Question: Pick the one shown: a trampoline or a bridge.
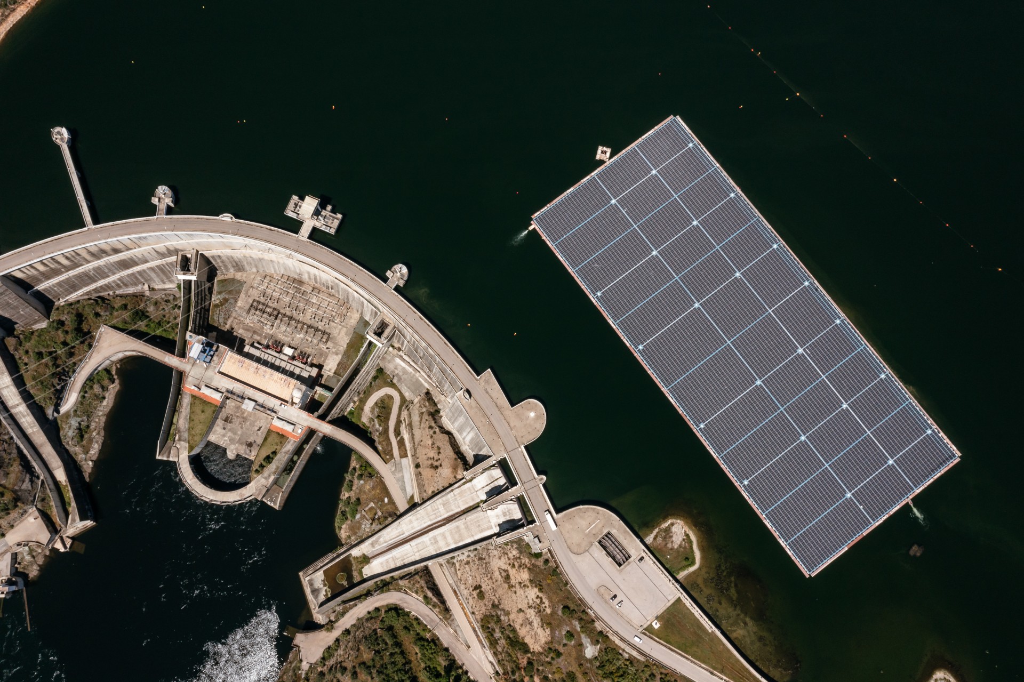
bridge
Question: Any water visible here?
Yes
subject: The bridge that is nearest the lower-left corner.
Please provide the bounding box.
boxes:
[59,325,187,415]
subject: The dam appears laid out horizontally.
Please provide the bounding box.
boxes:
[0,215,477,397]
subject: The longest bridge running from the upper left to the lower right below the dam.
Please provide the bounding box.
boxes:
[307,416,410,511]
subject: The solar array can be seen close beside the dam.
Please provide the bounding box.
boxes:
[530,115,962,579]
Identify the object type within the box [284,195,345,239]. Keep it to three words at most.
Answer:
building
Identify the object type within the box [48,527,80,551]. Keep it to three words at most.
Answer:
building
